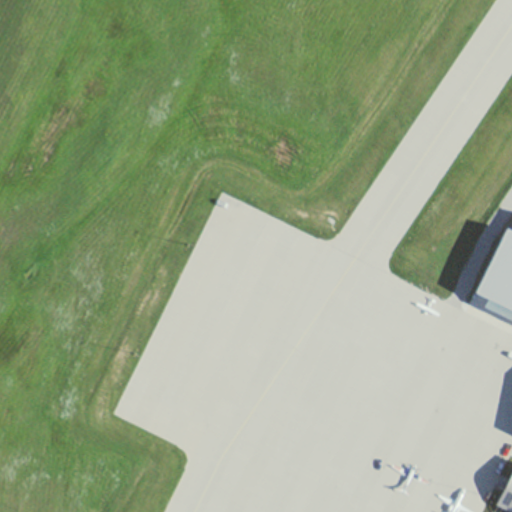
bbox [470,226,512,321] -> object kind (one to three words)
hangar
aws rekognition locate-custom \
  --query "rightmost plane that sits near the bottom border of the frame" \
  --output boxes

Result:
[434,488,470,512]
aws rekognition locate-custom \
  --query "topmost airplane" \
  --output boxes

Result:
[416,298,441,317]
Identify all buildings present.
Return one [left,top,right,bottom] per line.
[496,472,512,512]
[470,226,512,321]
